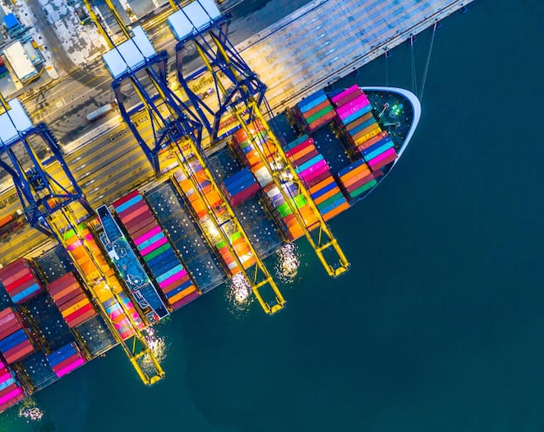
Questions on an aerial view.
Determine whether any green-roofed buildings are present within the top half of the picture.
No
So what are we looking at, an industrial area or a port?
port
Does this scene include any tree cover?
No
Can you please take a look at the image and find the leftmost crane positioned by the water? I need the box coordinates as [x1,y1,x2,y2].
[0,93,164,385]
